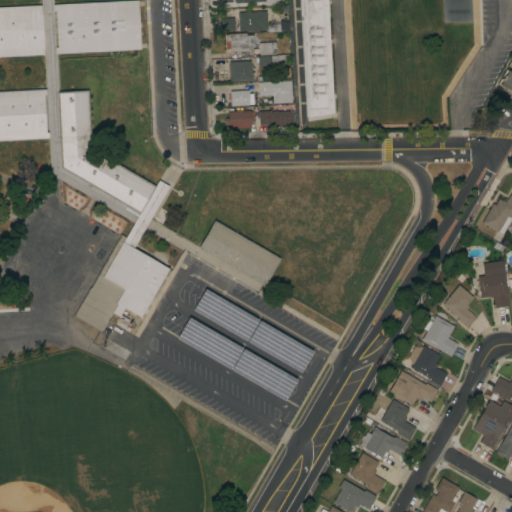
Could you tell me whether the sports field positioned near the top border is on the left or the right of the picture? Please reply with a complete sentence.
The sports field positioned near the top border appears in the right half of the scene.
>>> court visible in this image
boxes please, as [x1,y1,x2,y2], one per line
[444,0,474,22]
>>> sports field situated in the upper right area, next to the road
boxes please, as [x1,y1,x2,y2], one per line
[353,0,474,124]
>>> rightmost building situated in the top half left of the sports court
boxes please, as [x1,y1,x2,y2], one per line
[302,0,338,122]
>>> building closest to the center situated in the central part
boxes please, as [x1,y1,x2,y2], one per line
[202,222,282,288]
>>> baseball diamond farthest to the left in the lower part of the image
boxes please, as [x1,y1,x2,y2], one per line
[0,348,206,512]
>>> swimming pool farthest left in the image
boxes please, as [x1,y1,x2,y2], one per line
[466,246,490,261]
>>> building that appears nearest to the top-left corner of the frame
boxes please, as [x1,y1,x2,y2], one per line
[0,5,45,56]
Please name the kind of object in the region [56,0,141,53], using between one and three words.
building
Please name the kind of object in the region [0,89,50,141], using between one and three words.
building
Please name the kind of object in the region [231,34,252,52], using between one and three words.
house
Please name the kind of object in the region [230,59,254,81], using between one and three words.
house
